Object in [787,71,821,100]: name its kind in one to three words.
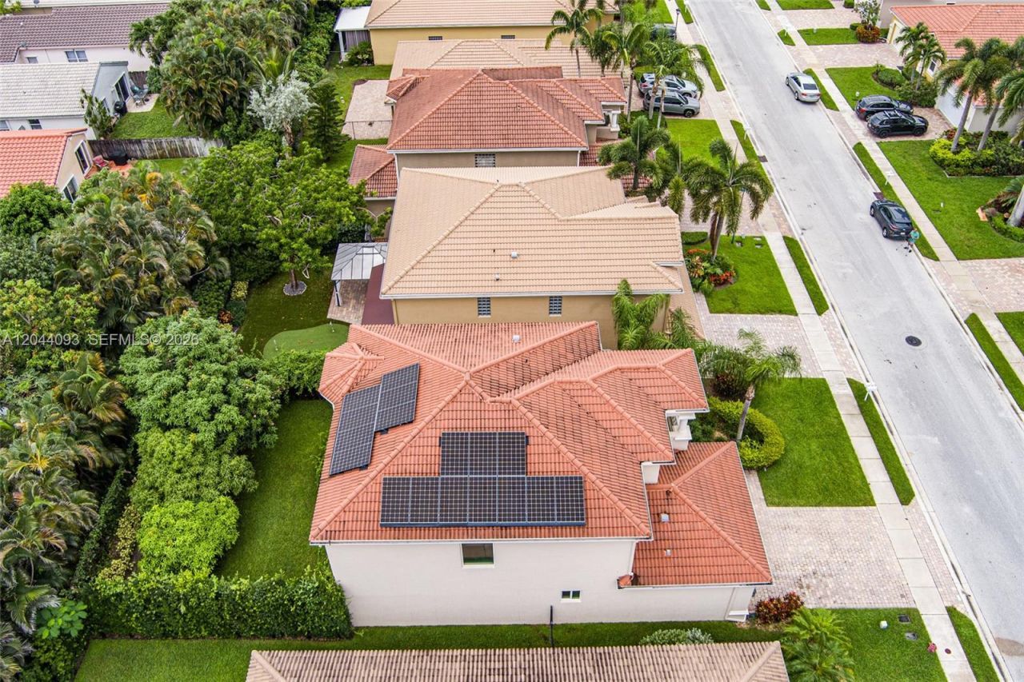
car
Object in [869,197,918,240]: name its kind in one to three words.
car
